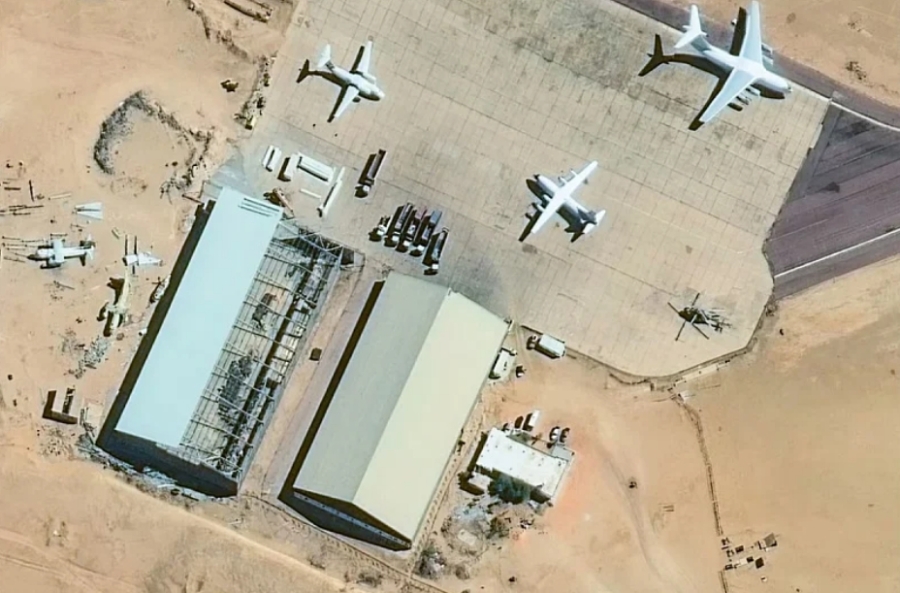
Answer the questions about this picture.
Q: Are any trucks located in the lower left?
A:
No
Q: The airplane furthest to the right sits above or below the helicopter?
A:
above it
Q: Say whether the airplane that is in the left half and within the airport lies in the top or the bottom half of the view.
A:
top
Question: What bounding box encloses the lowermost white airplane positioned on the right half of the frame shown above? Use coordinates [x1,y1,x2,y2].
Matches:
[528,158,606,237]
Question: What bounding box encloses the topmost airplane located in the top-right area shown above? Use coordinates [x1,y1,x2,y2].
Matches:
[675,0,792,119]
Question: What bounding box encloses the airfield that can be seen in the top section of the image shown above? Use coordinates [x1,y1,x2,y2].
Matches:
[196,0,900,385]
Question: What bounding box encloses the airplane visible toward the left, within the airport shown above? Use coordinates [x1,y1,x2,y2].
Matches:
[317,41,383,118]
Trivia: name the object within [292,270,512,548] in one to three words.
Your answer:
hangar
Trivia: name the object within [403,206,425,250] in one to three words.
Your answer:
truck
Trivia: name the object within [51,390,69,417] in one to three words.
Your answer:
shed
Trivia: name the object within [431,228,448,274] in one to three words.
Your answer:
vehicle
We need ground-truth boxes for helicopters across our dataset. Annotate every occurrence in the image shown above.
[679,285,735,332]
